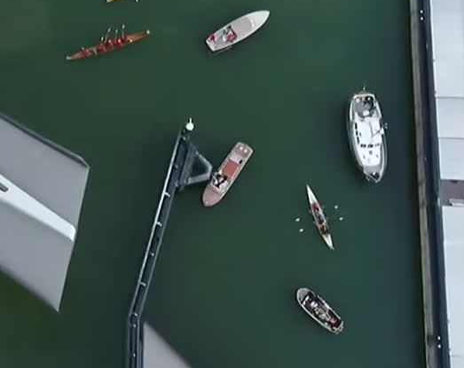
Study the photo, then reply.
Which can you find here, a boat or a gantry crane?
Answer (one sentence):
Looking from above, you can make out a boat.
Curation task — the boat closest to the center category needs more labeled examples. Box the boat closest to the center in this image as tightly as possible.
[200,142,253,207]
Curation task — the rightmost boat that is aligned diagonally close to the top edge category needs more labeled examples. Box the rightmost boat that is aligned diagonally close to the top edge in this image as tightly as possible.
[206,10,270,53]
